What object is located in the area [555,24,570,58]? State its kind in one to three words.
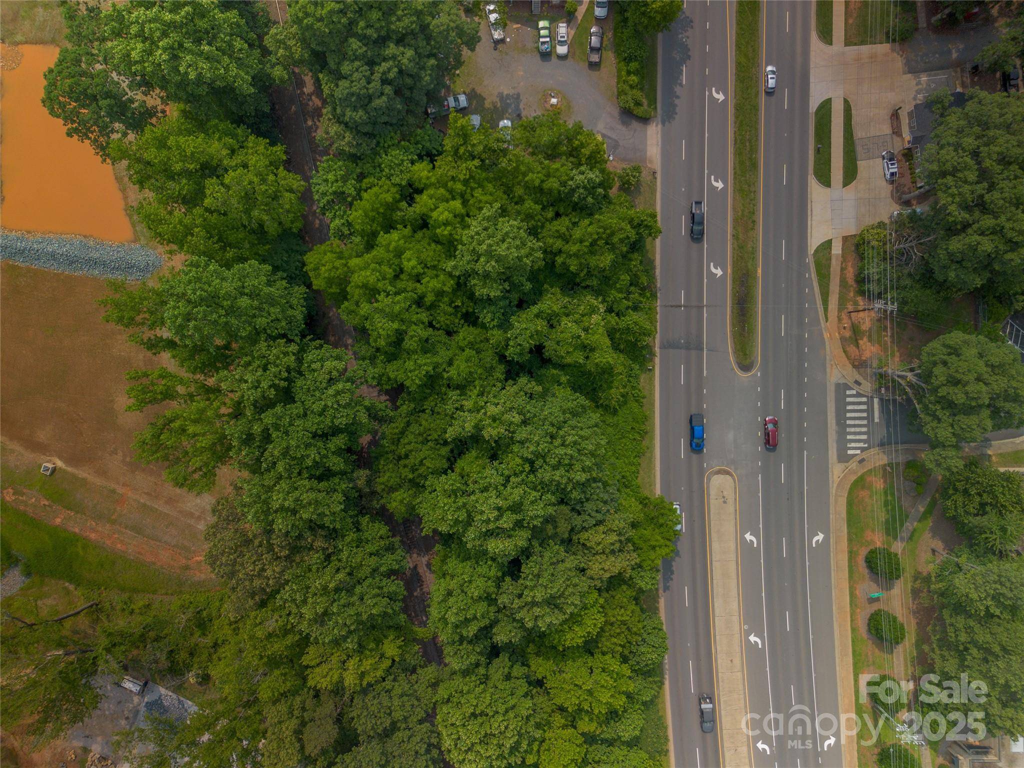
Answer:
car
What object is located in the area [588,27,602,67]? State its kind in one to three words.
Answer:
vehicle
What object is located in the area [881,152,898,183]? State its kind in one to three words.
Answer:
car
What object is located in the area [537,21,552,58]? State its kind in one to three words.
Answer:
vehicle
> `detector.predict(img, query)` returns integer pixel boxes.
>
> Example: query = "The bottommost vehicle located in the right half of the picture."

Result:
[697,692,714,731]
